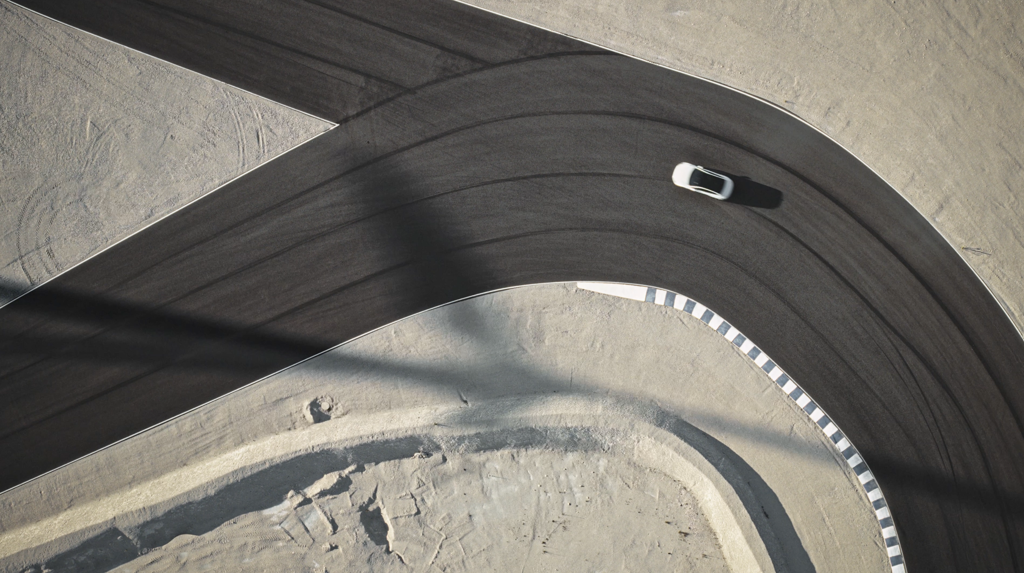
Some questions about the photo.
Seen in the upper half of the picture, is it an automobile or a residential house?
automobile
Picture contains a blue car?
No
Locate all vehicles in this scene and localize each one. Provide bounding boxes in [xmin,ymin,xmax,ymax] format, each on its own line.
[671,163,734,201]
